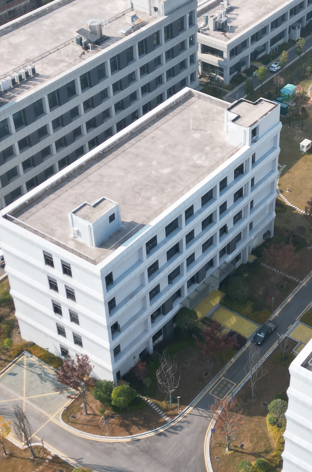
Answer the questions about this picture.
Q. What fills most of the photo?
buildings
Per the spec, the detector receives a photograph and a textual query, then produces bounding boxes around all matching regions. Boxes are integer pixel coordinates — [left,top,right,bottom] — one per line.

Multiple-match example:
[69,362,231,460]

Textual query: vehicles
[252,317,281,346]
[268,62,287,74]
[0,251,8,270]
